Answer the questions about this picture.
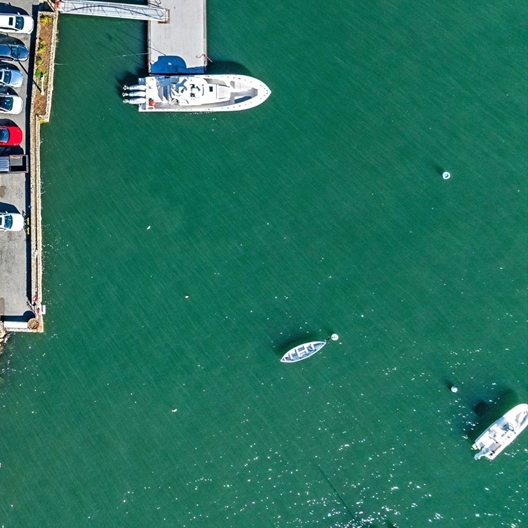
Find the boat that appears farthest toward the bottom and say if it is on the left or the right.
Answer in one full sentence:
The boat that appears farthest toward the bottom is on the right side of the image.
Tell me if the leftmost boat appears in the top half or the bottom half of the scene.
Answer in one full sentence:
The leftmost boat sits in the top half of the picture.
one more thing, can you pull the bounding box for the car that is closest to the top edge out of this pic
[0,12,34,35]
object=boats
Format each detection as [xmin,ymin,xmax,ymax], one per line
[280,341,328,363]
[475,400,528,461]
[121,64,272,110]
